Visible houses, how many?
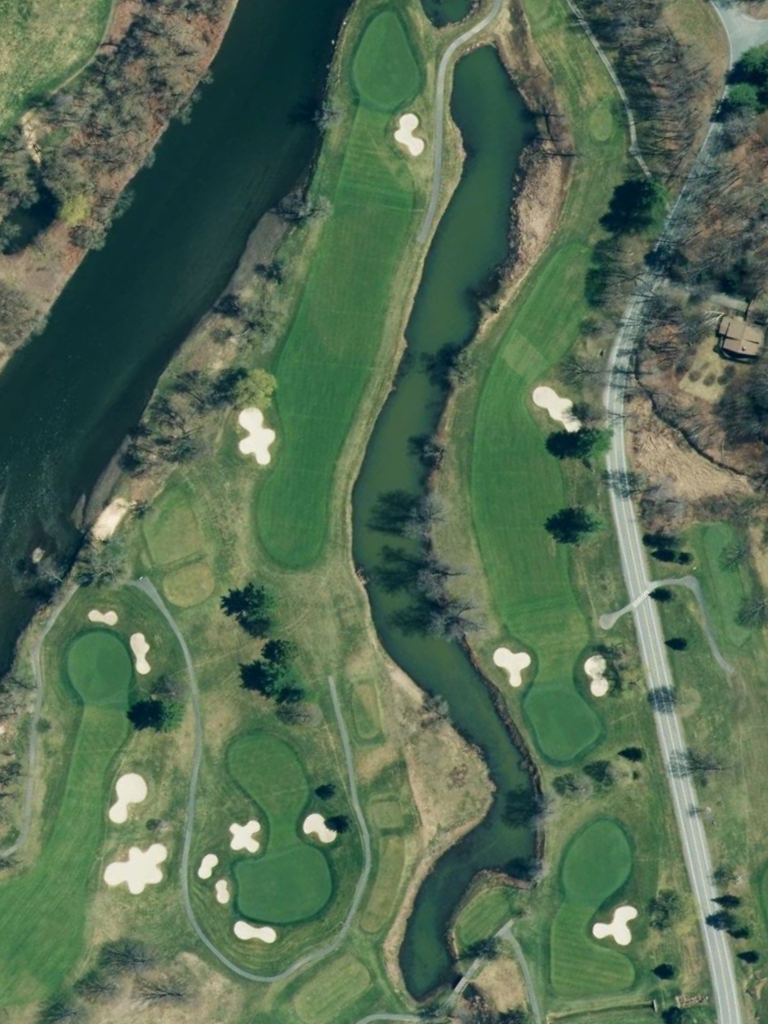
1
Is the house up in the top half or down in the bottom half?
top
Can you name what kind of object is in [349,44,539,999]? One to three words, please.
pond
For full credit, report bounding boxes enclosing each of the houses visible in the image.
[715,316,766,361]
